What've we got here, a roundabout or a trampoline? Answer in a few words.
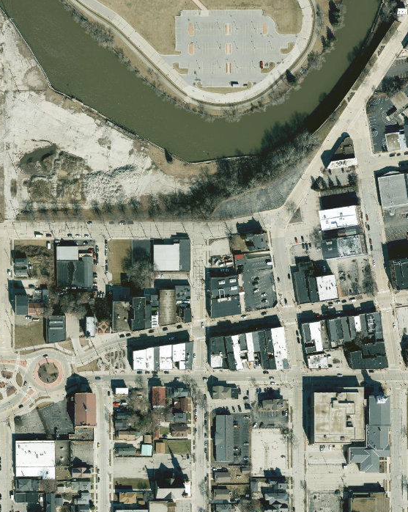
roundabout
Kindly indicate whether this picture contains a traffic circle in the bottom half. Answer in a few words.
Yes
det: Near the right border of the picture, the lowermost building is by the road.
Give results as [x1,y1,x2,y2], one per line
[352,491,390,512]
